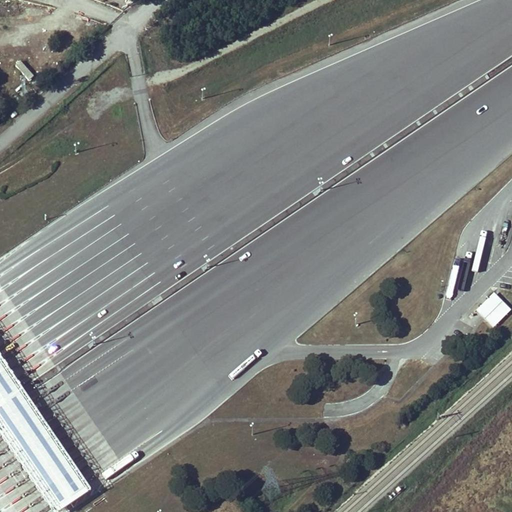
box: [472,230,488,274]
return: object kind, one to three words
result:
vehicle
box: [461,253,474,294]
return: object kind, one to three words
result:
vehicle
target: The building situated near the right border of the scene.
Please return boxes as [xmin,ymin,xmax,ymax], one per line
[478,294,512,328]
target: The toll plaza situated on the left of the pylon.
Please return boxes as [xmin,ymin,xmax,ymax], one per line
[0,352,90,512]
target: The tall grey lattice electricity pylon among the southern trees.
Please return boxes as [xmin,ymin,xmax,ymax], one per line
[257,464,286,507]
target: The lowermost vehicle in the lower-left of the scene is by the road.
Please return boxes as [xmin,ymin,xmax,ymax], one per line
[100,452,140,482]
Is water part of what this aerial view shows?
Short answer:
No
